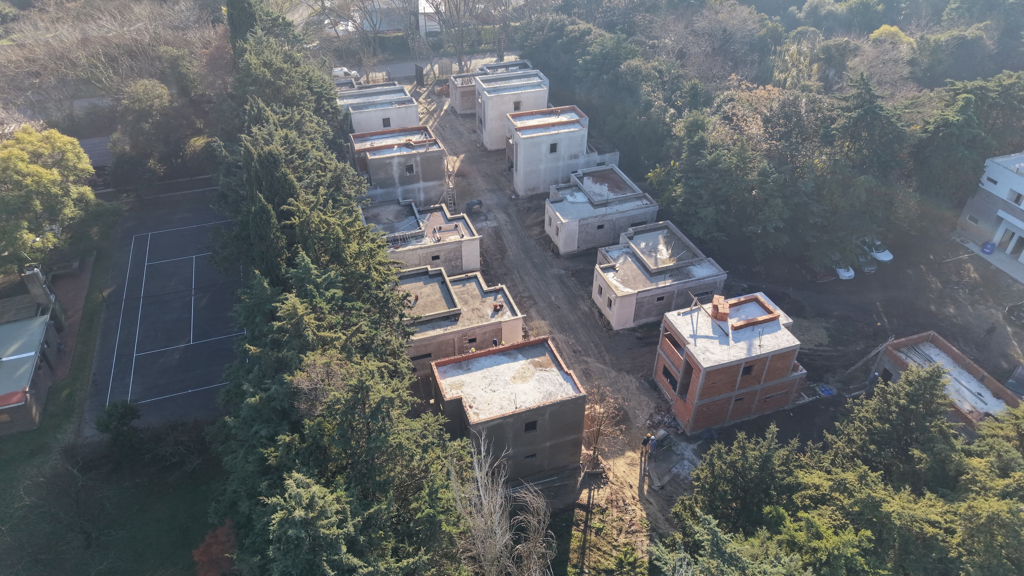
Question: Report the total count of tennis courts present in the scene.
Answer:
1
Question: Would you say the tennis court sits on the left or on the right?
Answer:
left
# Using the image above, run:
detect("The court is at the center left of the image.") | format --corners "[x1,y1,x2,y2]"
[74,195,301,461]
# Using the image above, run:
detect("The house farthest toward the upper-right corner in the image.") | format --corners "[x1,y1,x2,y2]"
[962,151,1024,254]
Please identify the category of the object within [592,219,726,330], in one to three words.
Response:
house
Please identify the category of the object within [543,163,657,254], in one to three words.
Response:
house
